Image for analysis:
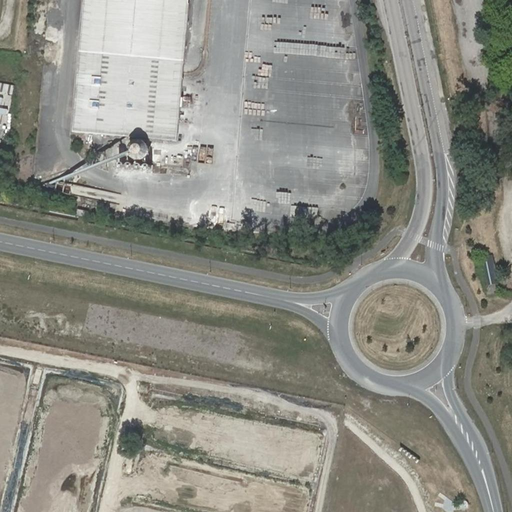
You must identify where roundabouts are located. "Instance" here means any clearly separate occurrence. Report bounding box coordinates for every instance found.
[330,260,466,396]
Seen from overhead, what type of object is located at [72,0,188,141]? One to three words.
building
